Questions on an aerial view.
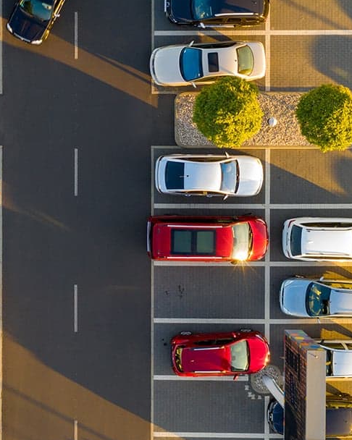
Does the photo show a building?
No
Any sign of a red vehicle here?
Yes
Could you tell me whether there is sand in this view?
No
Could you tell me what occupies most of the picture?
paved ground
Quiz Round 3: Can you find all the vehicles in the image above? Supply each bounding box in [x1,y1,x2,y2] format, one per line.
[164,0,272,26]
[150,41,266,87]
[310,336,352,379]
[147,215,269,265]
[155,155,263,200]
[279,276,352,322]
[282,217,352,262]
[7,0,66,43]
[172,332,269,380]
